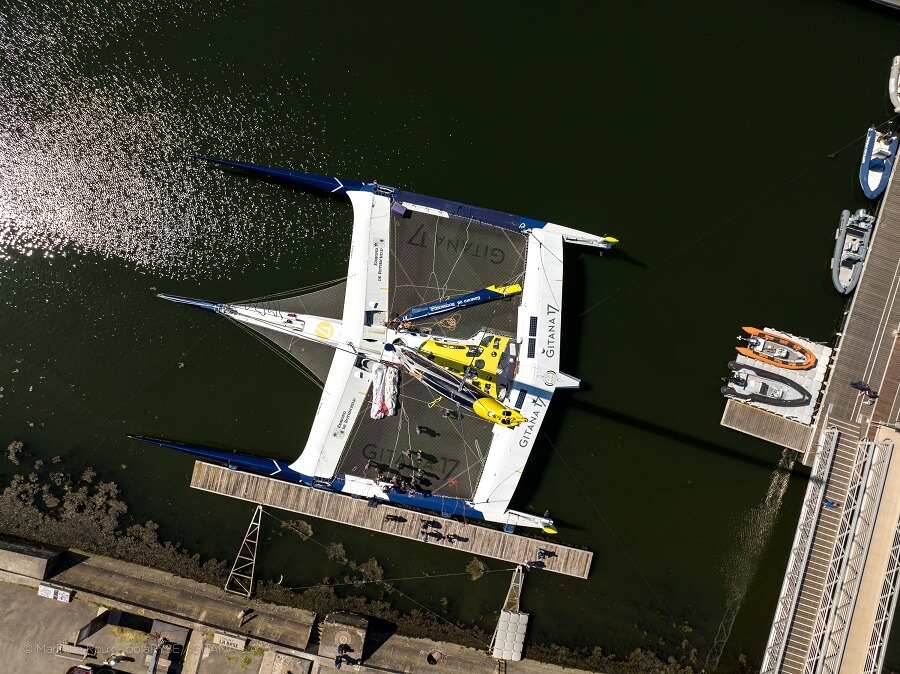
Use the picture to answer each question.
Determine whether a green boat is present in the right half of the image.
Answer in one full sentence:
No, I see no green boat in the right half of the image.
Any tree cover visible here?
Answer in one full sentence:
No, the scene doesn't show any tree cover.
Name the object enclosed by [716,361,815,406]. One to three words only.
boat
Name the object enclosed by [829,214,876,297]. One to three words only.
boat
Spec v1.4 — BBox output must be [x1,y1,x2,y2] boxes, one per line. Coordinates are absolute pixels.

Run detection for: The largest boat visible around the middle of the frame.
[127,156,618,533]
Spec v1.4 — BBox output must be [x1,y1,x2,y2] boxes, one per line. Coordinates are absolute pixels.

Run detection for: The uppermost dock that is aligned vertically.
[802,146,900,470]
